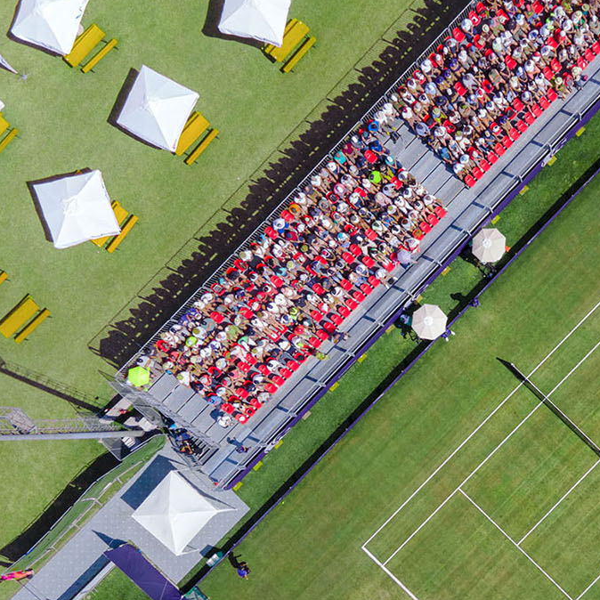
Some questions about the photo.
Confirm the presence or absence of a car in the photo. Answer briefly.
No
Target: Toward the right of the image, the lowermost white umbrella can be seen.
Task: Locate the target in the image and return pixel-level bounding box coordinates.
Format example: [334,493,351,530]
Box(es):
[408,301,447,342]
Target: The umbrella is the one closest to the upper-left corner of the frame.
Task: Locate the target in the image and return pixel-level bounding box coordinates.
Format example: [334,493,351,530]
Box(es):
[13,0,97,57]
